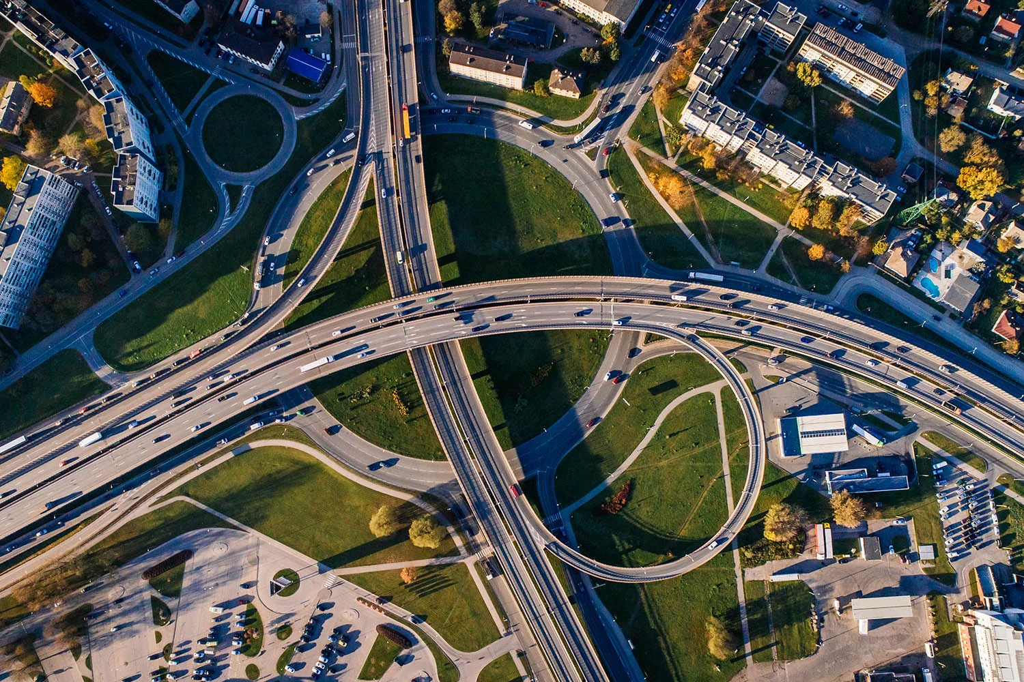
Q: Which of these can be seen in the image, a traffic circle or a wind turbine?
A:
traffic circle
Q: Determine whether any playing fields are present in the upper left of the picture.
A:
No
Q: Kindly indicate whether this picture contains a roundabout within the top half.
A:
Yes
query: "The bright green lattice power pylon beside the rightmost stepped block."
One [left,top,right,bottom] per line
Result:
[898,200,931,223]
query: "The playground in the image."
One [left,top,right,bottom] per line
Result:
[759,78,787,105]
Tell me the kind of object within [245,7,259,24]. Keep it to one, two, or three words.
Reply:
vehicle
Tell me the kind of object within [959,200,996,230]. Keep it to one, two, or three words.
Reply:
house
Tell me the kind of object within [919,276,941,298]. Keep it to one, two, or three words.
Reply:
swimming pool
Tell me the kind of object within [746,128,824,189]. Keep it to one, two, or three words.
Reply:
building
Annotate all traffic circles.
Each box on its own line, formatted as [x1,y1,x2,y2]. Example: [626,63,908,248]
[189,82,297,185]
